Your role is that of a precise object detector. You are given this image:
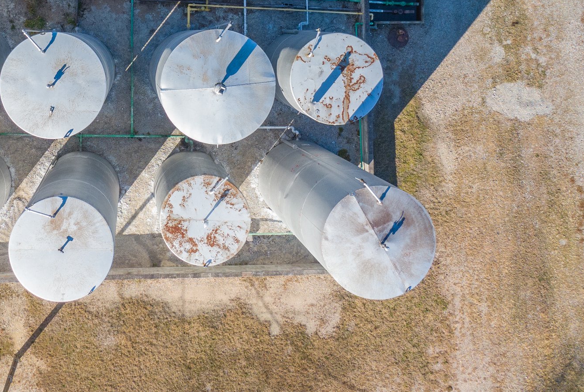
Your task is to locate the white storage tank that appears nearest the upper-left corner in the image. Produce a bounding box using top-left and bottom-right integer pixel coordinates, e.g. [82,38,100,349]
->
[0,29,113,140]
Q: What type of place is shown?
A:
industrial area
